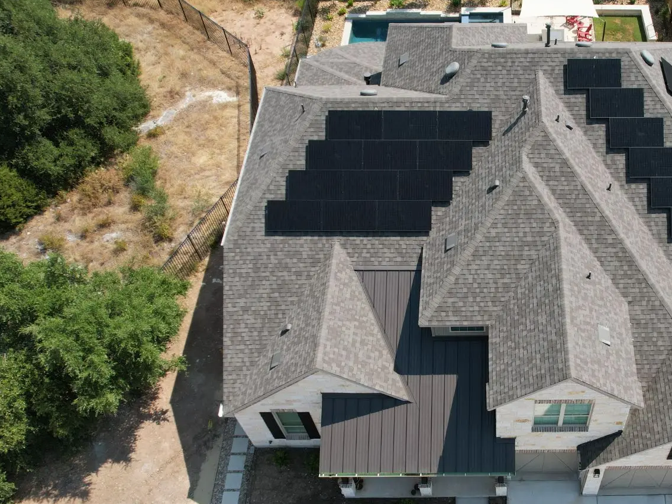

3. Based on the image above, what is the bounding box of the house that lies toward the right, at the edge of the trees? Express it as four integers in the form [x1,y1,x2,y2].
[217,14,672,496]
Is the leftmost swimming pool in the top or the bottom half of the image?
top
